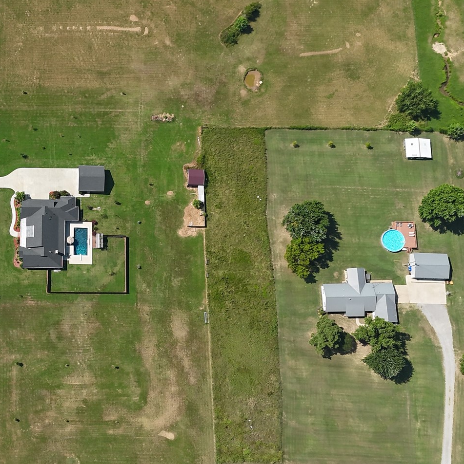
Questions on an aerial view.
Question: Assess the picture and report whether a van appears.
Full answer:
No, I can see no van in this picture.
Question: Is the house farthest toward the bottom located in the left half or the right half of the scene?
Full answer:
It is on the right.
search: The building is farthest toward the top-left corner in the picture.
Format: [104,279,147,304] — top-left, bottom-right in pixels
[78,165,105,192]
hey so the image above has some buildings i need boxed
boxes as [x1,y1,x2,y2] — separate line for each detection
[402,137,432,160]
[19,196,78,268]
[410,253,451,280]
[187,169,205,186]
[321,267,397,322]
[78,165,105,192]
